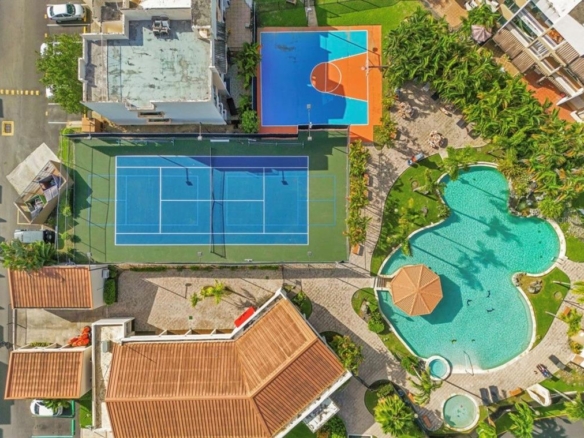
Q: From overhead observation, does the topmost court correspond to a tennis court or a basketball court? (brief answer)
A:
basketball court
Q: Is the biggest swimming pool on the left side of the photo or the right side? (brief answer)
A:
right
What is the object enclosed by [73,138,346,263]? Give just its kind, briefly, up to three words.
tennis court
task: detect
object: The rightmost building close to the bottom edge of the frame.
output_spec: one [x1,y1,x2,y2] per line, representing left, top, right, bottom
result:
[90,291,355,438]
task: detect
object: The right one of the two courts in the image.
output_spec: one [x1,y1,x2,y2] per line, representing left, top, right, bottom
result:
[258,26,381,141]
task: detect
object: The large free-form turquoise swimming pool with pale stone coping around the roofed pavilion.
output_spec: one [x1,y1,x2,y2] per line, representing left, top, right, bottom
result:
[373,161,572,375]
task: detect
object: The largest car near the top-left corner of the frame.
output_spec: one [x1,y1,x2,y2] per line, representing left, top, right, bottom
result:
[48,2,87,23]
